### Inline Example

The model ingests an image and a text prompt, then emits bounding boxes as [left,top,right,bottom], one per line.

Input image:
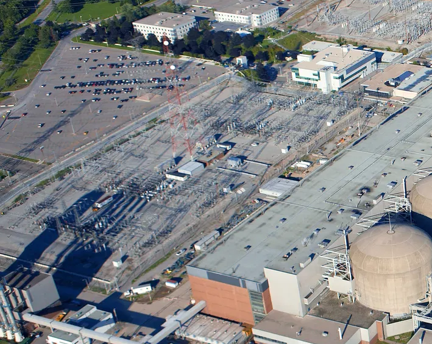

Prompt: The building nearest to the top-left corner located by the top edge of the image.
[133,11,202,42]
